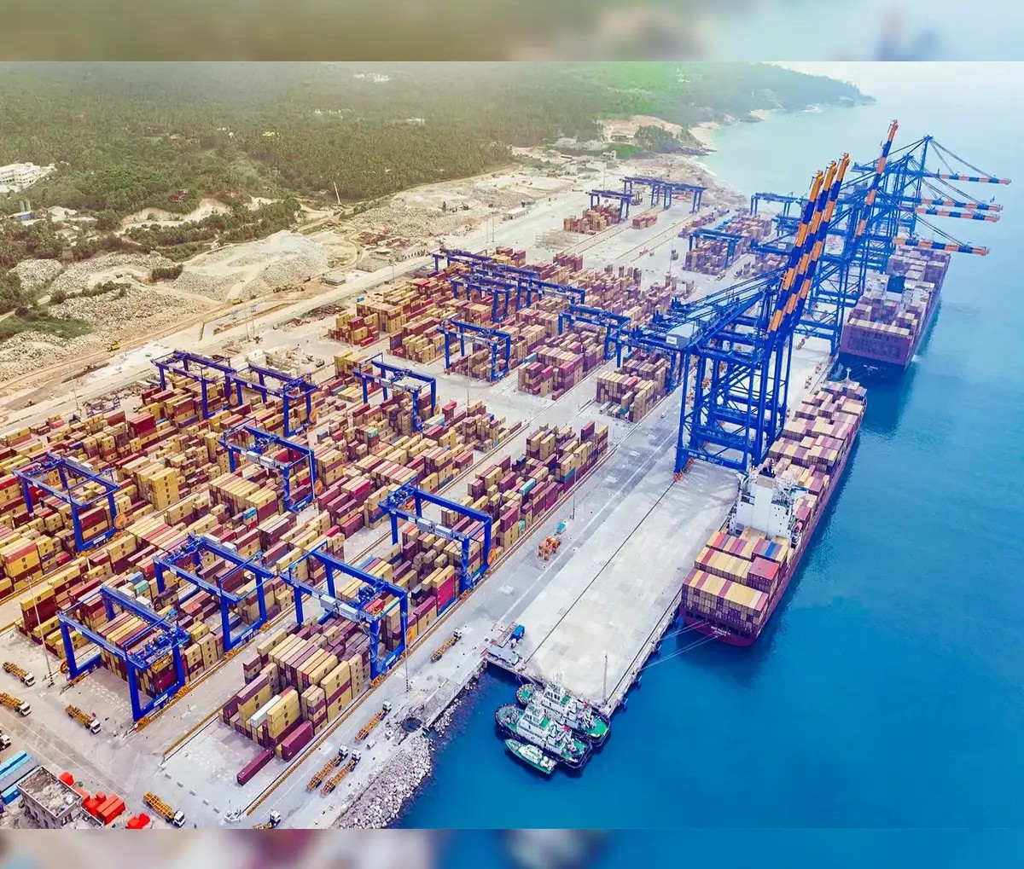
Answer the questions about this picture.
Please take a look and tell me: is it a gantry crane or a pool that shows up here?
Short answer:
gantry crane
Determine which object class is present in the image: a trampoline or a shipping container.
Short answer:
shipping container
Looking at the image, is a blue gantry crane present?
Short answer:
Yes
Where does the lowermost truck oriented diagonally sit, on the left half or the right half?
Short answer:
left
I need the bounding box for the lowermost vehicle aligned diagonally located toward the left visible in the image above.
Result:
[140,791,183,830]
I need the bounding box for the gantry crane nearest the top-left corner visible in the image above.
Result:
[154,339,236,420]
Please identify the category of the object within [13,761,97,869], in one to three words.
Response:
building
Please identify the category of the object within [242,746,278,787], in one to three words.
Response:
shipping container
